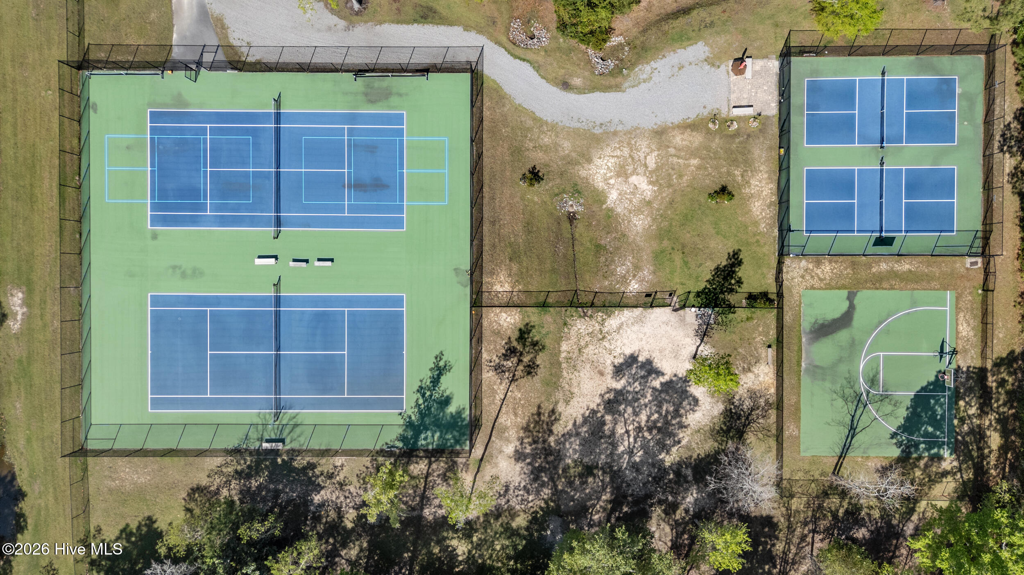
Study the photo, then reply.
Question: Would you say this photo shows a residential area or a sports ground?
sports ground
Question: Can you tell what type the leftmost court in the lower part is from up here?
tennis court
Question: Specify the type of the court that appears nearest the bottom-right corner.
basketball court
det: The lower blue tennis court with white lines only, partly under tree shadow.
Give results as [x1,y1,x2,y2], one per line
[81,262,470,450]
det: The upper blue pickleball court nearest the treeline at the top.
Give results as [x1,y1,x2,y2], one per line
[779,55,985,156]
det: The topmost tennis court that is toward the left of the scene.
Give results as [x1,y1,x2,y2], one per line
[80,72,470,262]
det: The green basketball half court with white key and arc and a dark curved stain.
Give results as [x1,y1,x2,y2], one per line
[801,290,956,457]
